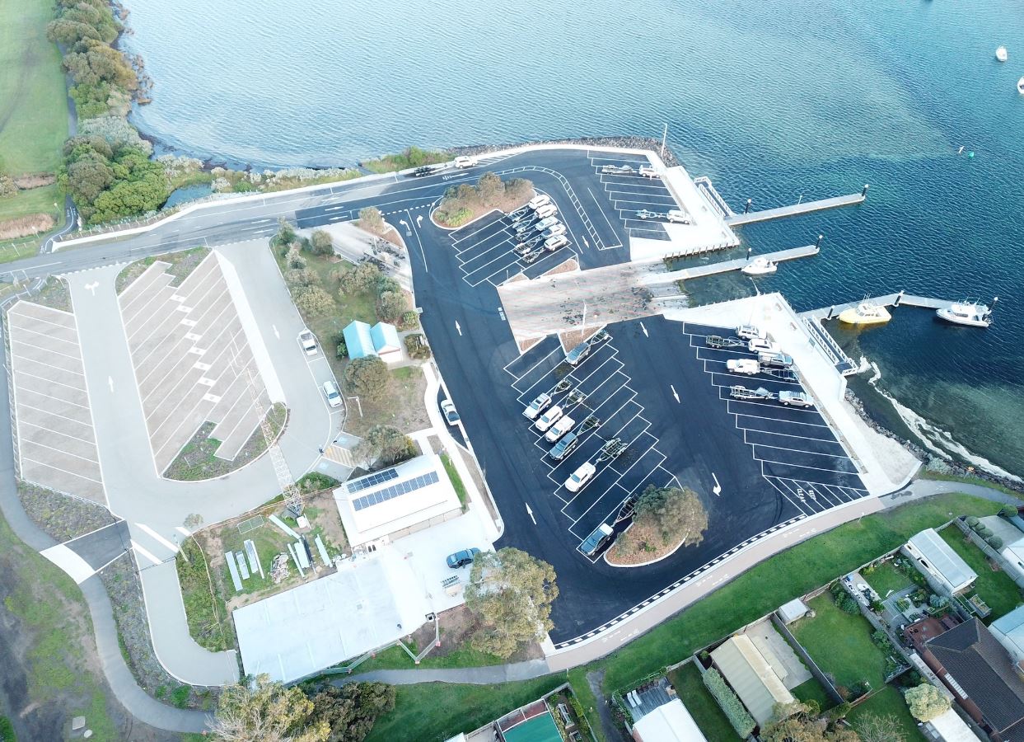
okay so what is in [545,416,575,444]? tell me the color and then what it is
white car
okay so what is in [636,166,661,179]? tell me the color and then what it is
white vehicle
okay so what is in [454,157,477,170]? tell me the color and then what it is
white vehicle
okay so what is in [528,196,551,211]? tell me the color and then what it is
white car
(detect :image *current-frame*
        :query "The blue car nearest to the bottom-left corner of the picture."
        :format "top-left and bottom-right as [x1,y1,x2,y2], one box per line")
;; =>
[446,549,483,570]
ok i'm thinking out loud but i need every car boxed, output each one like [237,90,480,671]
[636,166,661,179]
[549,434,578,462]
[454,157,477,170]
[528,196,551,211]
[778,392,813,409]
[441,401,460,427]
[566,342,592,366]
[665,211,690,225]
[543,236,567,252]
[534,206,557,220]
[566,462,595,492]
[535,405,563,432]
[324,385,342,406]
[749,338,779,353]
[726,360,759,377]
[300,331,318,356]
[541,225,566,241]
[756,351,789,368]
[545,416,575,444]
[534,217,559,232]
[581,523,613,557]
[733,324,764,339]
[524,394,551,420]
[446,549,483,570]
